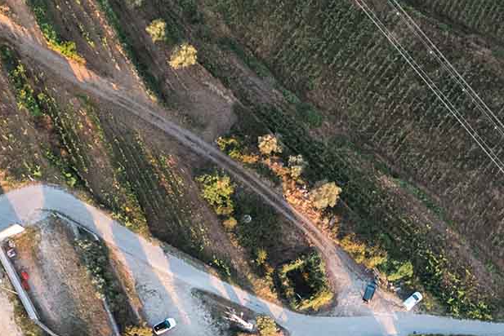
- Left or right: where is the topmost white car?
right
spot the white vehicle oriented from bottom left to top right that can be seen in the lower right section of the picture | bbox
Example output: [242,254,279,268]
[403,290,423,310]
